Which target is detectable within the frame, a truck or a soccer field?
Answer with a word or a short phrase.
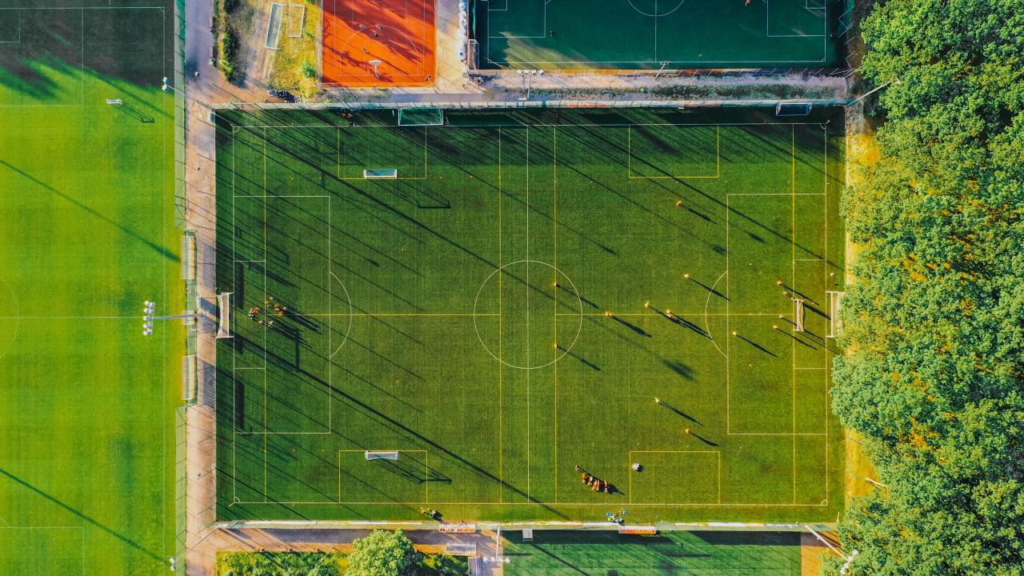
soccer field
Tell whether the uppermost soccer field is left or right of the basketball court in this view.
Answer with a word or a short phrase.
to the right of it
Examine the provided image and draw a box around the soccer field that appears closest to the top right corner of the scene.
[477,0,842,70]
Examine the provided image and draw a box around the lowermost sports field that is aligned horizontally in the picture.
[504,528,801,576]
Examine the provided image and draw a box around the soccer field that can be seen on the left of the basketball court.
[0,0,196,576]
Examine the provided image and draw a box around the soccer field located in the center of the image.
[216,106,845,522]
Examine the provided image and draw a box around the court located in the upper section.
[322,0,436,87]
